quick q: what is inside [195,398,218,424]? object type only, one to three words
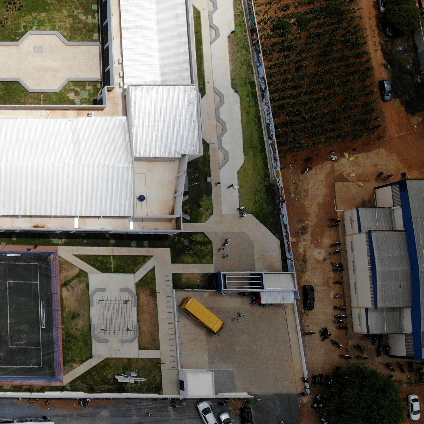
truck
